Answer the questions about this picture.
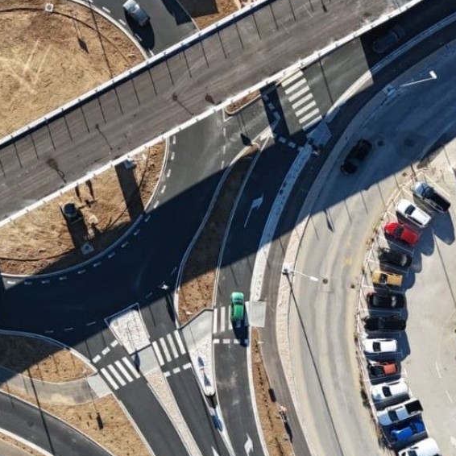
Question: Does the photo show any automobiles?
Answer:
Yes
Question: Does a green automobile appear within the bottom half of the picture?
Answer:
Yes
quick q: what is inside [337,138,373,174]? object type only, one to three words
car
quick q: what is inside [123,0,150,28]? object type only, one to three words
car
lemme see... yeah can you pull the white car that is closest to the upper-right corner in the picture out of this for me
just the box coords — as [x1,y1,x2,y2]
[394,198,432,227]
